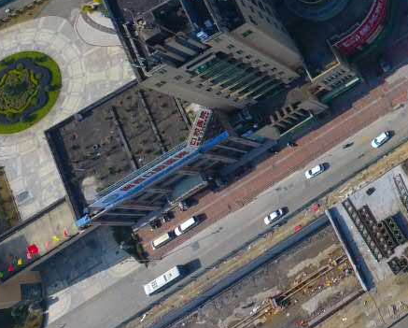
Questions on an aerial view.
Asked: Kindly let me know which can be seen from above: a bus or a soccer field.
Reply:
bus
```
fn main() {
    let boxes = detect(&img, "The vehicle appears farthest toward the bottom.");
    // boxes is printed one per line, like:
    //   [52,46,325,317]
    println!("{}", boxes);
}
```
[133,263,183,296]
